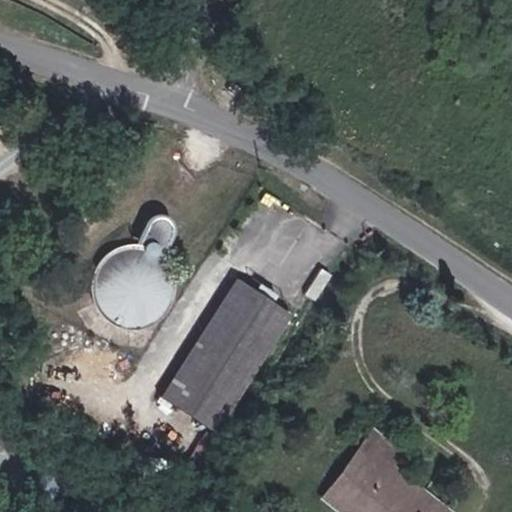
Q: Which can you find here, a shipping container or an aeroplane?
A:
shipping container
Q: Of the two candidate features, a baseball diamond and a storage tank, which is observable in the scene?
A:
storage tank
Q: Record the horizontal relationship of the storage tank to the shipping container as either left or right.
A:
to the left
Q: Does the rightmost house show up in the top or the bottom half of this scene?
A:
bottom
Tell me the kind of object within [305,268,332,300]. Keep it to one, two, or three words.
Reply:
shipping container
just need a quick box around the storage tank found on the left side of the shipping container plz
[92,214,177,338]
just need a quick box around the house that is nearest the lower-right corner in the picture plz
[320,430,456,512]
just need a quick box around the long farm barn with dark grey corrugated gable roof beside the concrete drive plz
[162,270,290,430]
